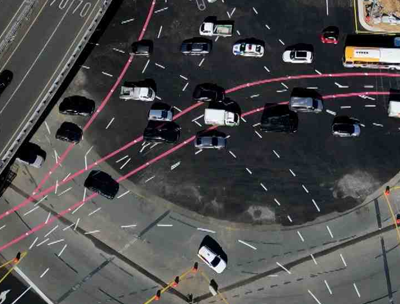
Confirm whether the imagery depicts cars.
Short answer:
Yes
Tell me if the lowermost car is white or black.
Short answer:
white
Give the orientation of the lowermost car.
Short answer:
on a diagonal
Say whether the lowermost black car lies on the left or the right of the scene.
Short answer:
left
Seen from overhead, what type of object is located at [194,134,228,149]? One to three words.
car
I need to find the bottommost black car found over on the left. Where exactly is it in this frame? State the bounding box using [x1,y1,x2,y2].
[85,174,119,197]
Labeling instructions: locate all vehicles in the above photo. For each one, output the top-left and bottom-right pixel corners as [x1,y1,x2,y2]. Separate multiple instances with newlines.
[233,42,264,57]
[85,174,119,197]
[392,36,400,46]
[145,125,180,140]
[61,100,93,115]
[181,42,212,57]
[291,96,323,113]
[193,87,226,103]
[282,49,313,64]
[342,45,400,68]
[388,101,400,117]
[131,42,154,56]
[201,22,232,37]
[205,109,239,127]
[196,245,229,277]
[121,87,155,102]
[148,108,173,122]
[330,121,362,136]
[320,31,341,43]
[55,128,84,143]
[194,134,228,149]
